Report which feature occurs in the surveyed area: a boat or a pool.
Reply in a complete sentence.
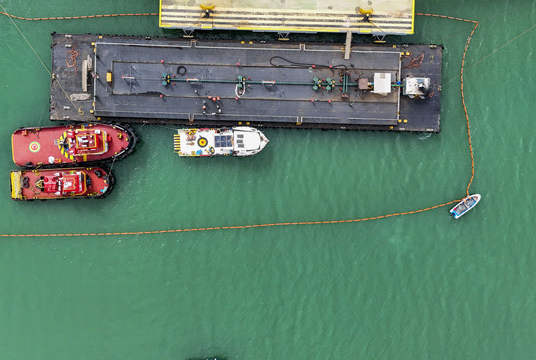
There is a boat in the scene.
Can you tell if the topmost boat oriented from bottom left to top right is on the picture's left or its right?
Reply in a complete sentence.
The topmost boat oriented from bottom left to top right is on the right side of the image.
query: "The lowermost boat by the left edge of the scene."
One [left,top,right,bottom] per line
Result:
[11,164,118,202]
